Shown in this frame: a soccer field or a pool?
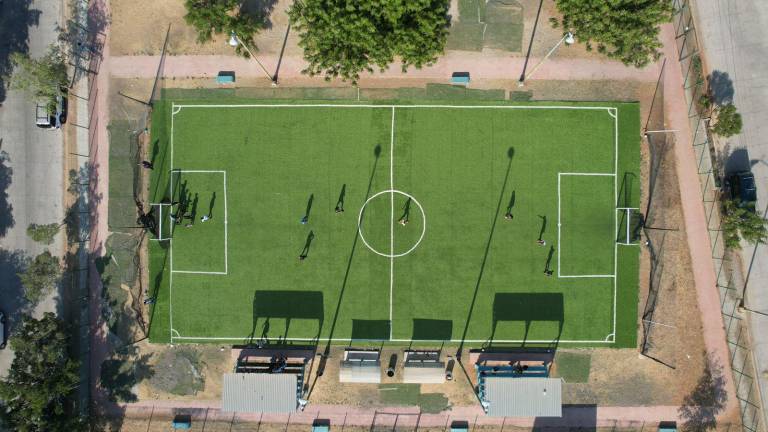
soccer field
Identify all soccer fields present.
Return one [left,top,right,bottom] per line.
[148,100,640,349]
